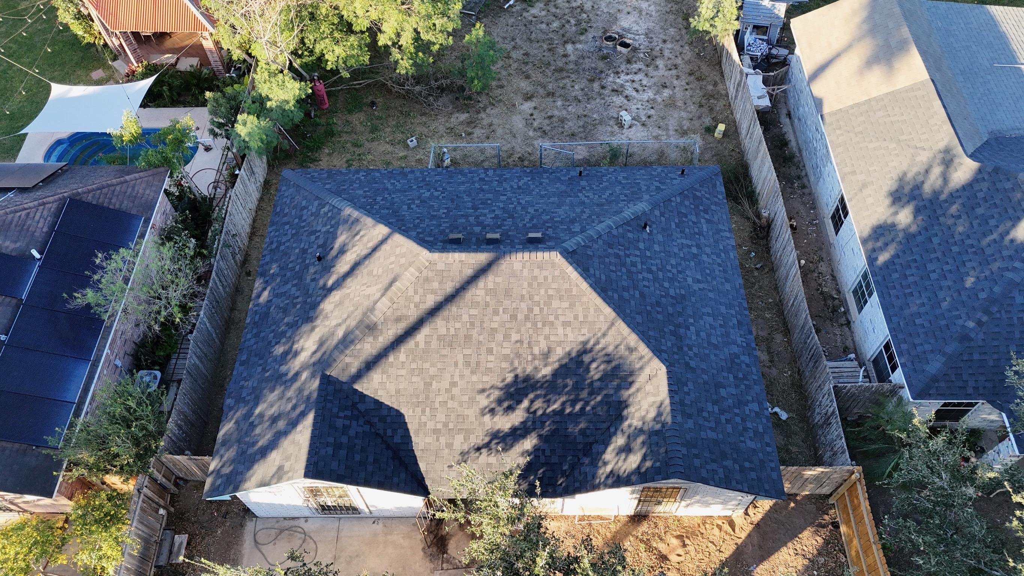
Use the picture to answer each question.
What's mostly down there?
buildings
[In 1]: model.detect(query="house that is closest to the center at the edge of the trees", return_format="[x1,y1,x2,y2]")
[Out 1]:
[204,164,789,521]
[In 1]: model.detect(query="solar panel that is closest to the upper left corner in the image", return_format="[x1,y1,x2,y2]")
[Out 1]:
[0,163,67,188]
